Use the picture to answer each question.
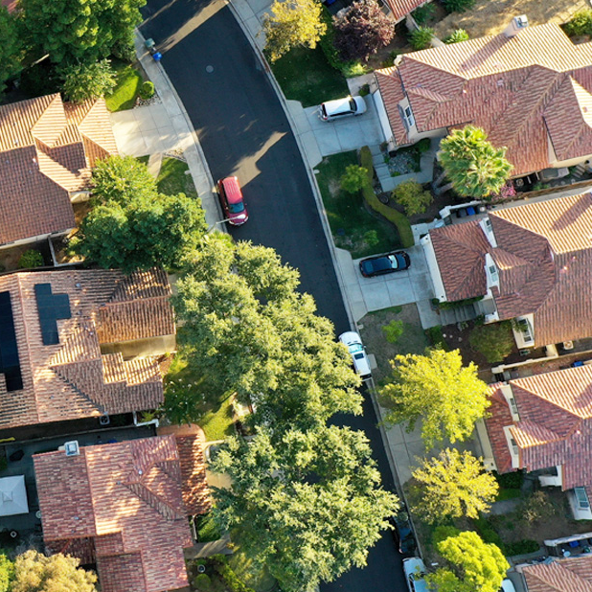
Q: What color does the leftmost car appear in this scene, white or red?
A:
red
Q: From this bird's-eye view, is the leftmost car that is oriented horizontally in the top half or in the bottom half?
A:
top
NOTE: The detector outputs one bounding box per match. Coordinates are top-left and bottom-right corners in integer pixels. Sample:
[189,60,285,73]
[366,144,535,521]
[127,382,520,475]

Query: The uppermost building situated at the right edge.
[368,13,592,177]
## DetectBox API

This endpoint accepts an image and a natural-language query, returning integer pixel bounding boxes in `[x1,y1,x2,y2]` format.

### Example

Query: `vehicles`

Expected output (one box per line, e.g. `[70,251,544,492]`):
[339,327,376,381]
[401,555,433,592]
[316,91,369,121]
[356,249,412,279]
[386,501,419,558]
[217,174,249,226]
